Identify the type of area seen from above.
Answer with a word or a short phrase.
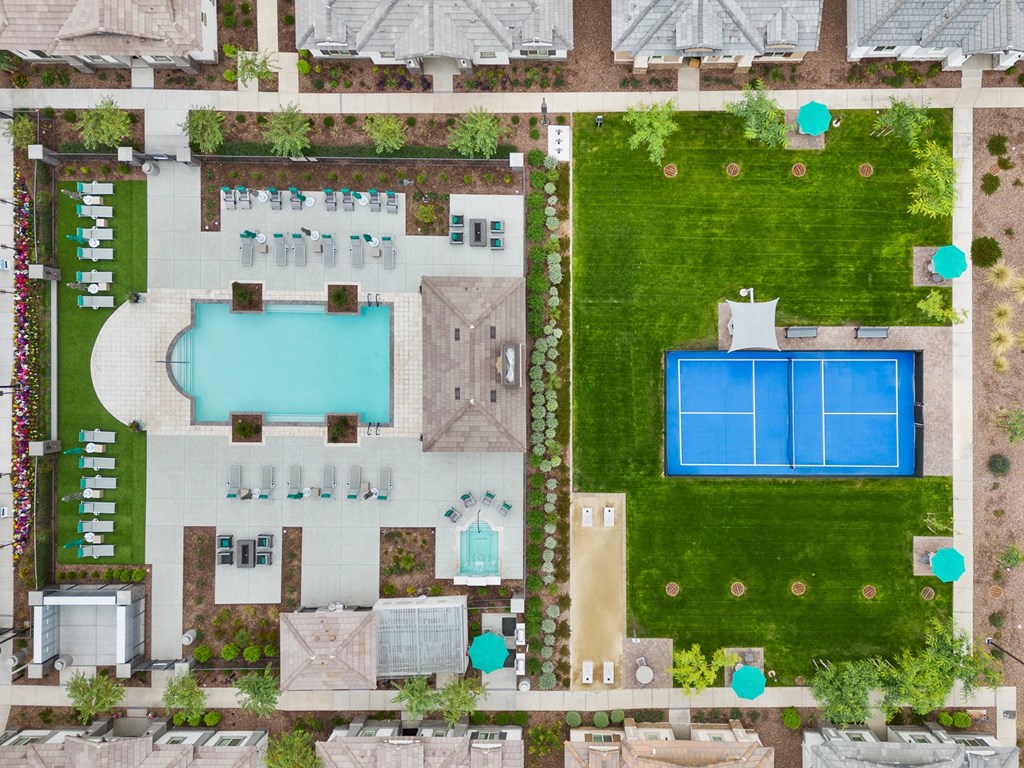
residential area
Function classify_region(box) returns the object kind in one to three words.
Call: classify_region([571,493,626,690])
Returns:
sports court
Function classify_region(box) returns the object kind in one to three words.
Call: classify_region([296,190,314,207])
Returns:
umbrella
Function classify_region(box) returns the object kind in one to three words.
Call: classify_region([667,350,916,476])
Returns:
sports court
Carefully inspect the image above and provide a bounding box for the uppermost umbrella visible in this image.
[793,102,830,137]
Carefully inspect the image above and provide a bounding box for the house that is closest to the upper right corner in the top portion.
[847,0,1024,71]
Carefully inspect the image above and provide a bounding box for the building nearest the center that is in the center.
[419,274,528,454]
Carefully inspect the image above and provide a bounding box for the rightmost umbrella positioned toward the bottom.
[920,547,964,581]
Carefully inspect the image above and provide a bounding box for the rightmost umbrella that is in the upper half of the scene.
[921,244,967,280]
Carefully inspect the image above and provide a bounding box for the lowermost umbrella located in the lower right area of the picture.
[730,662,766,701]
